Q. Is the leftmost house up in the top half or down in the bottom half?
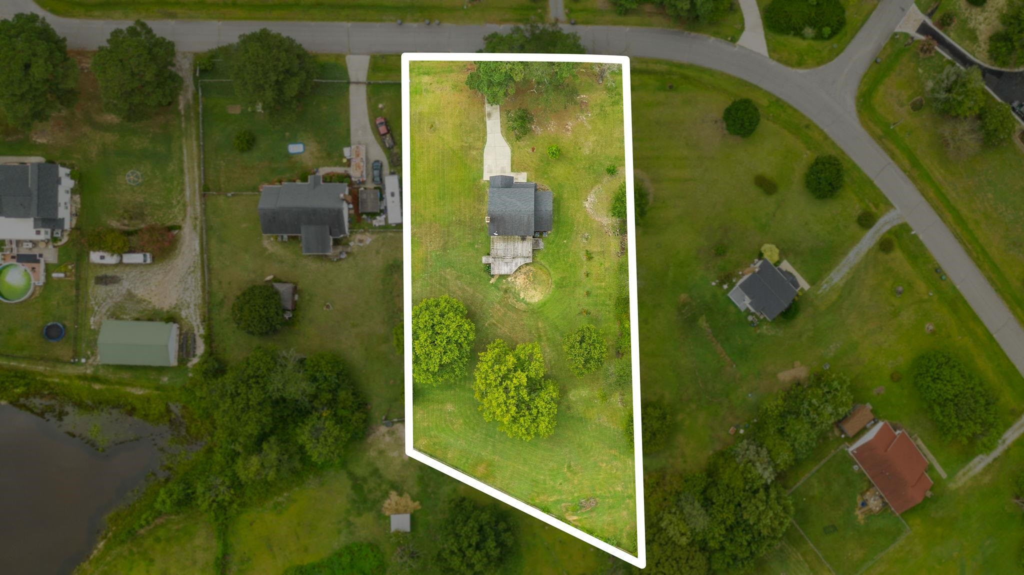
top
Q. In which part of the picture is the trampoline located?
left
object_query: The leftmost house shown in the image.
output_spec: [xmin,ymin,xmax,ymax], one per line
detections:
[0,161,74,239]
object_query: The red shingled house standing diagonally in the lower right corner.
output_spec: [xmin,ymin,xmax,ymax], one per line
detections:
[847,424,937,514]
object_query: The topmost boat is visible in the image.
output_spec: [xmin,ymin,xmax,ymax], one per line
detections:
[351,145,366,181]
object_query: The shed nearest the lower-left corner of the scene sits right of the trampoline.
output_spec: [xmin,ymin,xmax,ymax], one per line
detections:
[96,321,178,367]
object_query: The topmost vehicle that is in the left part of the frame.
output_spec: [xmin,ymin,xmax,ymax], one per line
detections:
[376,115,394,148]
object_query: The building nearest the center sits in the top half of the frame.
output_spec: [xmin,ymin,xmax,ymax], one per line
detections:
[486,174,553,236]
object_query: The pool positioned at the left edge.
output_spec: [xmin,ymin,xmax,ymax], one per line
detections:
[0,261,38,303]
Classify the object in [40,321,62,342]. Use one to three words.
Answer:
trampoline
